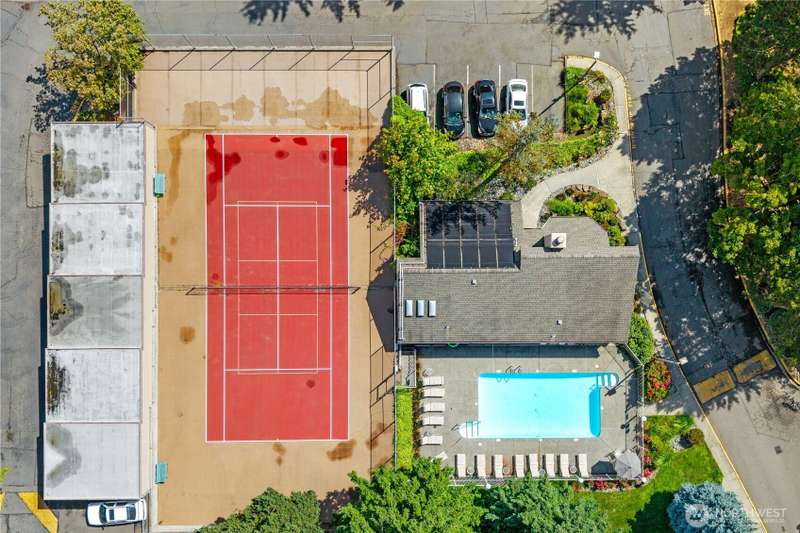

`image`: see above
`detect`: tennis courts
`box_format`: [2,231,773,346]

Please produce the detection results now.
[133,50,392,525]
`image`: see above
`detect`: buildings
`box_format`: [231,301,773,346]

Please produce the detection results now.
[43,120,155,500]
[400,201,640,347]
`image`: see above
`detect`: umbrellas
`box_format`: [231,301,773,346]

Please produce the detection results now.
[614,450,642,478]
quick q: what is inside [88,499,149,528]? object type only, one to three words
car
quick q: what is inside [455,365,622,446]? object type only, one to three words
swimming pool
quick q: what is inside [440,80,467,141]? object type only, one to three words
car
